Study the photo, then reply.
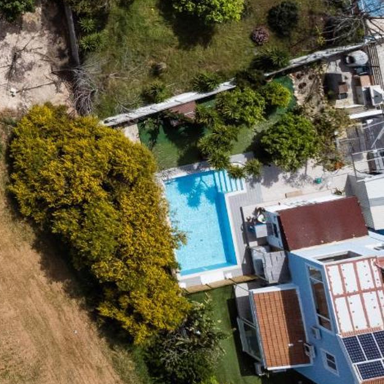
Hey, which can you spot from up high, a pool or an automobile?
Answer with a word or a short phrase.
pool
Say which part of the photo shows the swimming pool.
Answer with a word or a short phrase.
center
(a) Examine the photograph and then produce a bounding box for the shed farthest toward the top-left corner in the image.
[160,100,196,126]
